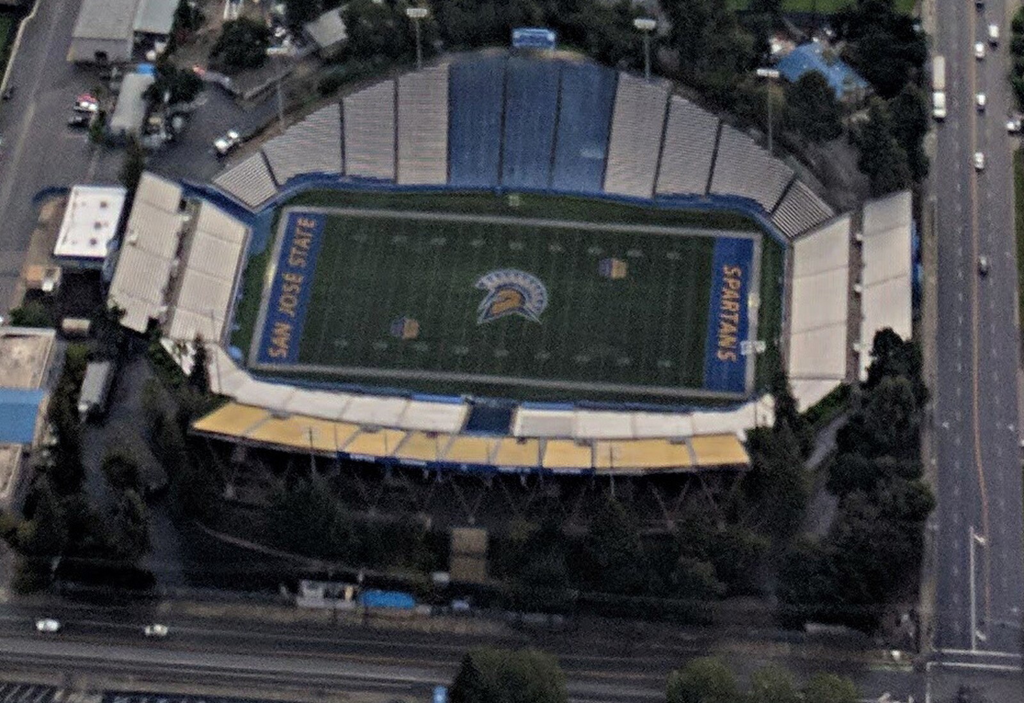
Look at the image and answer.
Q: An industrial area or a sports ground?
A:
sports ground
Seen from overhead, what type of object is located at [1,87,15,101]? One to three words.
car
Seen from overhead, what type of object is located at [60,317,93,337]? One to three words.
shed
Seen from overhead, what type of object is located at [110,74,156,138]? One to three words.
building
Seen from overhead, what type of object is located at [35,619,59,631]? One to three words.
vehicle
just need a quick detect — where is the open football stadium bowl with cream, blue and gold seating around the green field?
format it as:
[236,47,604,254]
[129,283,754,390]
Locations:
[107,55,914,514]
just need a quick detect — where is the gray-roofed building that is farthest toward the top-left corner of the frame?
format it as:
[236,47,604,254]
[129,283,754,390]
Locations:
[67,0,140,63]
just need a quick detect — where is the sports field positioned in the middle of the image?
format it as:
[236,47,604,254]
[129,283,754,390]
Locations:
[230,189,782,407]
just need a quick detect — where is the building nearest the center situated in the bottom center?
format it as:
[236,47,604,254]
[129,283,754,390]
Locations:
[448,527,490,559]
